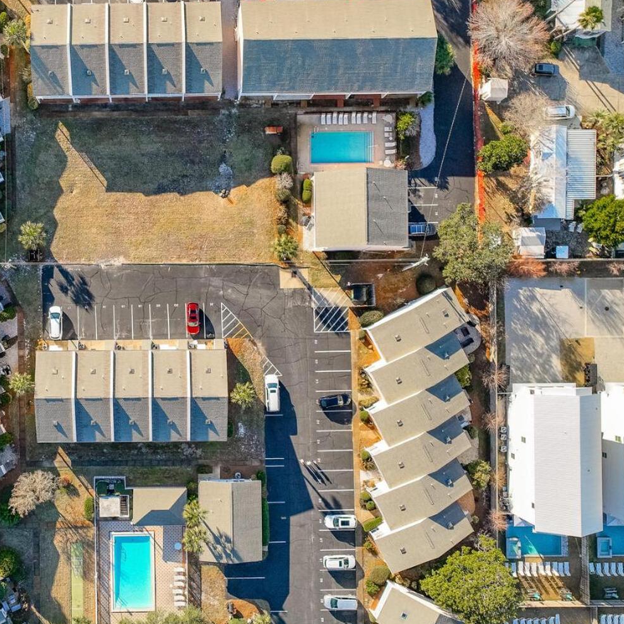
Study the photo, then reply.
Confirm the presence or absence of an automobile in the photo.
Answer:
Yes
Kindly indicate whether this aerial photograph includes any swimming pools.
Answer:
Yes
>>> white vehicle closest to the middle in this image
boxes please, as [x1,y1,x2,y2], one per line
[265,374,281,412]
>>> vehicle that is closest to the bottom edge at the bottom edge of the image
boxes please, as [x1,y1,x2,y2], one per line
[323,594,358,612]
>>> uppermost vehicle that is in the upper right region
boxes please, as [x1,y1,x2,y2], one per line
[531,61,559,77]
